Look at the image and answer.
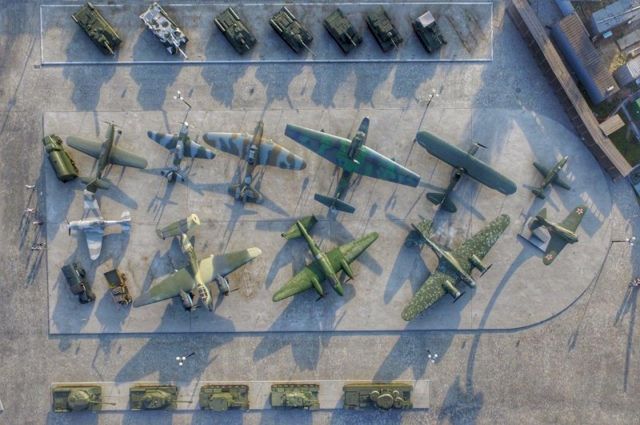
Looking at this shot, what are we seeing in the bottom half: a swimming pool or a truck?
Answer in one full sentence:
You can see a truck in the bottom half.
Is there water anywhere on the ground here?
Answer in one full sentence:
No, the picture contains no water.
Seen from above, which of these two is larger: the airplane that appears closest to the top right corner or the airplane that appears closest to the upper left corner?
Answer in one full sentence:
The larger object is the airplane that appears closest to the upper left corner, with the airplane that appears closest to the top right corner being the smaller of the pair.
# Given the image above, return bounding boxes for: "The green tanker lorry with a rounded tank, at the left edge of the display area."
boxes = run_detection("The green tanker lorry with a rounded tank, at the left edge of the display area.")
[44,136,78,182]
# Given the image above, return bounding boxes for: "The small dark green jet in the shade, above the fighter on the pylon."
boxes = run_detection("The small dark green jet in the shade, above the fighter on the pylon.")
[532,157,572,202]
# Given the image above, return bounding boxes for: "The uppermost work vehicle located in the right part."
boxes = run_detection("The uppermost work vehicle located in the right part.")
[411,11,446,54]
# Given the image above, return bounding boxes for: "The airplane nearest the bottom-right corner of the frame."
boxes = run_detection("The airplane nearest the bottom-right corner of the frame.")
[530,204,585,266]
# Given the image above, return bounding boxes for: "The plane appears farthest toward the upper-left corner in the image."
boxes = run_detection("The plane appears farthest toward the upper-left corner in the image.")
[63,121,145,191]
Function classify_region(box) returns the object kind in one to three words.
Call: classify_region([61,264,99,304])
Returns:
truck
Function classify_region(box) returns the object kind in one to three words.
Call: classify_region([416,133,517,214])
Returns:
airplane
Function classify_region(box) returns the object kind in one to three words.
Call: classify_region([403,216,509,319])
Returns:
airplane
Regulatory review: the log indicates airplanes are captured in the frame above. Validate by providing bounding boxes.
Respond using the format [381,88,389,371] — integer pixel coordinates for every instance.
[64,190,133,261]
[63,121,145,191]
[145,121,214,182]
[416,133,517,214]
[284,113,422,212]
[403,216,509,319]
[202,118,308,199]
[131,214,262,314]
[532,157,572,202]
[530,204,585,266]
[272,211,380,300]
